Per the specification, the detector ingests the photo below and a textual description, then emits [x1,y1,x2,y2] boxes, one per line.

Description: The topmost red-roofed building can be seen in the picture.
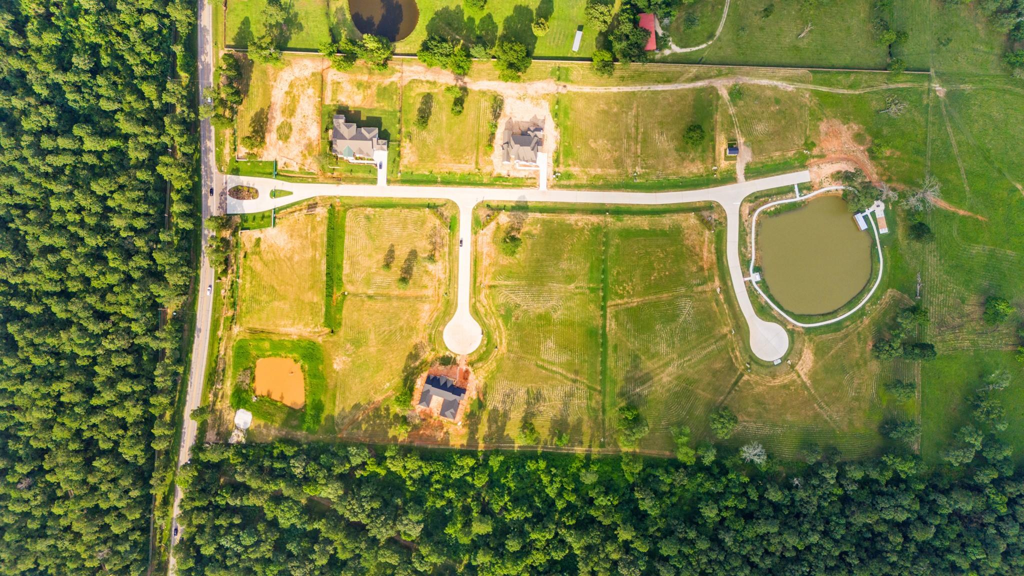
[636,13,656,53]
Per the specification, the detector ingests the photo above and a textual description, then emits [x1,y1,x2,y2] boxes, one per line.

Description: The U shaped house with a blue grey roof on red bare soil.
[420,373,470,422]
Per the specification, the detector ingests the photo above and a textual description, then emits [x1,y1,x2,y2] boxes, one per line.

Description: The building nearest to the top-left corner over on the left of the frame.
[330,114,388,161]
